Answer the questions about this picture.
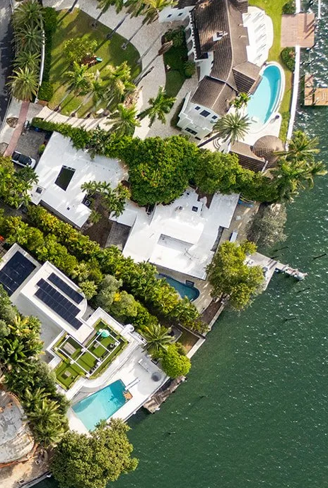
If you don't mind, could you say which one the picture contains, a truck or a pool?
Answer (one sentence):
There is a pool in the scene.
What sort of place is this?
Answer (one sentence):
It's a residential area.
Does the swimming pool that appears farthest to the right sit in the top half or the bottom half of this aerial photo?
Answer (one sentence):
The top half of the photo is where the swimming pool that appears farthest to the right is.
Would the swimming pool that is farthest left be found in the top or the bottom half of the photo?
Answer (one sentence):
You can find the swimming pool that is farthest left in the bottom half.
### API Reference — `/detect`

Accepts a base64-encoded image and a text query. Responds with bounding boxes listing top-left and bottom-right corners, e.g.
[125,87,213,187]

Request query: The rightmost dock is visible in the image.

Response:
[299,75,328,109]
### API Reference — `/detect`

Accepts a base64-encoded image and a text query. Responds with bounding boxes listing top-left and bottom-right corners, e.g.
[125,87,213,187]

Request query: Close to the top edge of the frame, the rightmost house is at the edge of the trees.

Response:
[148,0,262,139]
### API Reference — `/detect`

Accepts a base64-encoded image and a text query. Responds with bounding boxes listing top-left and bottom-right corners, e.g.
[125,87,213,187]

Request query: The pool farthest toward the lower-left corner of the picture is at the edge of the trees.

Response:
[71,376,136,429]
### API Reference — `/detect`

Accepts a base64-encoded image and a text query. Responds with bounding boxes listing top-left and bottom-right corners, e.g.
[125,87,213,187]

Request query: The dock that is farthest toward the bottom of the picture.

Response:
[147,373,187,414]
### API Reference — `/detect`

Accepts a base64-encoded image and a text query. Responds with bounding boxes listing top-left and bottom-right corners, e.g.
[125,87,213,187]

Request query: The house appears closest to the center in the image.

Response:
[116,183,240,284]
